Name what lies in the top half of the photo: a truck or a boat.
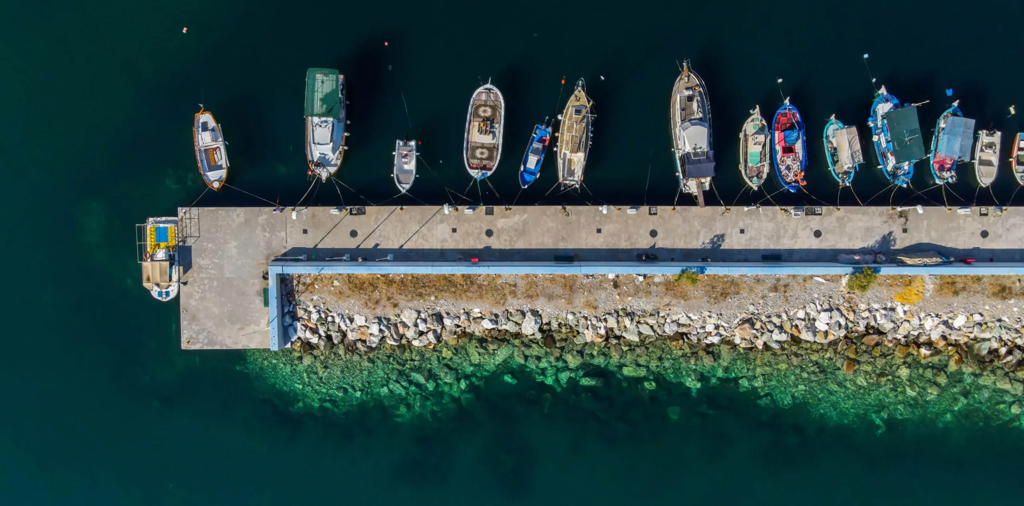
boat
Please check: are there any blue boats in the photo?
Yes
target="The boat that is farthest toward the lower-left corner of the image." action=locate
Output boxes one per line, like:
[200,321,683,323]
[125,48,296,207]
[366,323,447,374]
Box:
[136,217,180,301]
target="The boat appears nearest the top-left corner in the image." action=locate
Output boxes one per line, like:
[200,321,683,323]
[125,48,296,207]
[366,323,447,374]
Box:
[193,104,229,191]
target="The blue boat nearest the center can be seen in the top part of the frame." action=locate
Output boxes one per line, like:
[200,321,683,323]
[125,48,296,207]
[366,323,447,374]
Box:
[520,116,553,189]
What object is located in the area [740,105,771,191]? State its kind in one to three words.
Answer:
boat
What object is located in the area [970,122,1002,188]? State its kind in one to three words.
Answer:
boat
